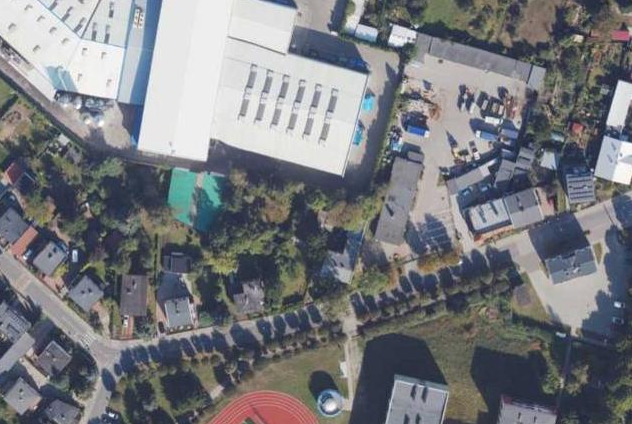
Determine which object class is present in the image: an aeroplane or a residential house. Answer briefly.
residential house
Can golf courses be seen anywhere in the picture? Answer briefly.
No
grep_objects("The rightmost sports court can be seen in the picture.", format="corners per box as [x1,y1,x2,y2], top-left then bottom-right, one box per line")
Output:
[195,173,225,230]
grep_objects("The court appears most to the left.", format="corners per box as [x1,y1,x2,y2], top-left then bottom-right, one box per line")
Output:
[167,169,195,226]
